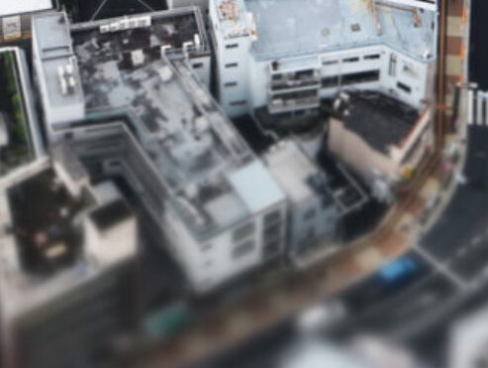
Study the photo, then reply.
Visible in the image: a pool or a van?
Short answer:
van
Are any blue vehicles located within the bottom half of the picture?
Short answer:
Yes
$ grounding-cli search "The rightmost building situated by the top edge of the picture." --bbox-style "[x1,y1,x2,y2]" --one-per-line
[208,0,439,113]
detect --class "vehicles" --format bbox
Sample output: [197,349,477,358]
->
[294,301,346,338]
[374,256,418,289]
